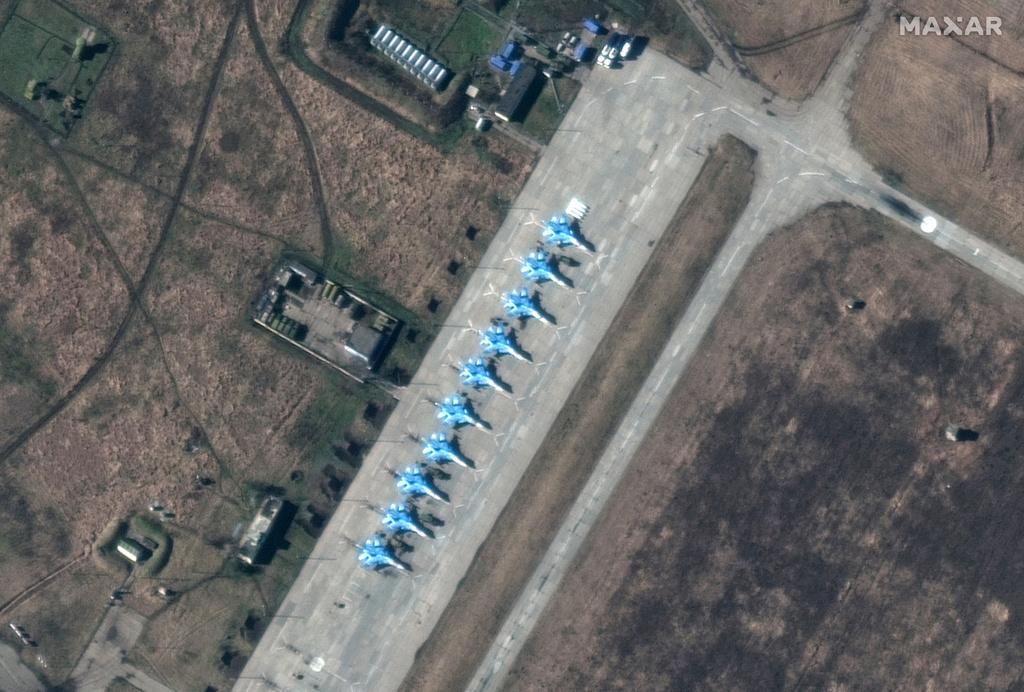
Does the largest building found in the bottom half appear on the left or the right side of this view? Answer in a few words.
left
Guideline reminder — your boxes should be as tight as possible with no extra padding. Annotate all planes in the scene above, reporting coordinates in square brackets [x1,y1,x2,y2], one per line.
[539,217,594,255]
[458,359,511,397]
[519,253,571,289]
[499,286,553,325]
[417,429,469,467]
[436,393,491,431]
[375,500,429,538]
[396,463,450,503]
[478,323,533,362]
[354,535,409,574]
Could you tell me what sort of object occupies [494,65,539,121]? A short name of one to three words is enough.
building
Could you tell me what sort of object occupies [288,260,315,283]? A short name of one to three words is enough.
shed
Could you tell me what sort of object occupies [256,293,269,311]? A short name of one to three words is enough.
vehicle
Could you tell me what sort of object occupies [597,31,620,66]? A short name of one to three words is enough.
truck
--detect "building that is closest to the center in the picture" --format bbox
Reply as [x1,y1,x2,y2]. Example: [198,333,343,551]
[345,323,384,363]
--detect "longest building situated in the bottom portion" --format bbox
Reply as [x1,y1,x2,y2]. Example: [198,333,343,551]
[237,497,286,566]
